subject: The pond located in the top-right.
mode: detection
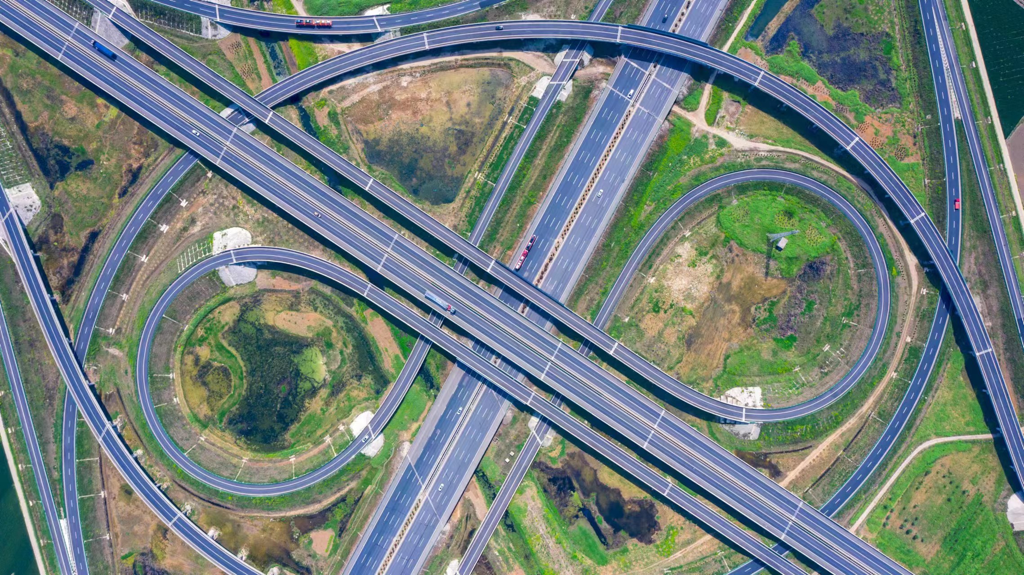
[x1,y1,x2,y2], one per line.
[776,0,901,110]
